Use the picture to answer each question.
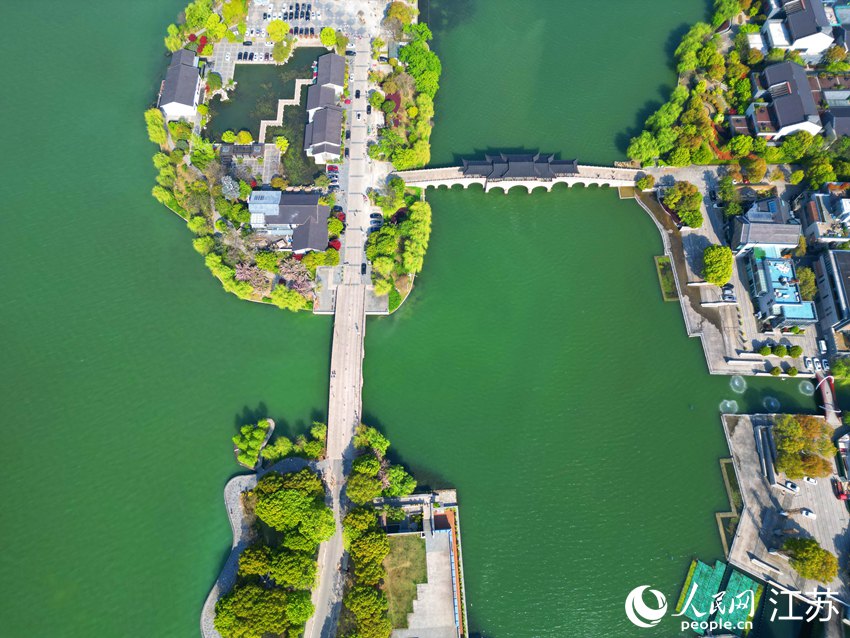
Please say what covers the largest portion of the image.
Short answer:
water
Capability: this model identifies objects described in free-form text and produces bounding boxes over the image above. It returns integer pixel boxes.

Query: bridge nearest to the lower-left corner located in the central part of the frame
[325,285,368,460]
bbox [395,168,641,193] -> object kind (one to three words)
bridge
